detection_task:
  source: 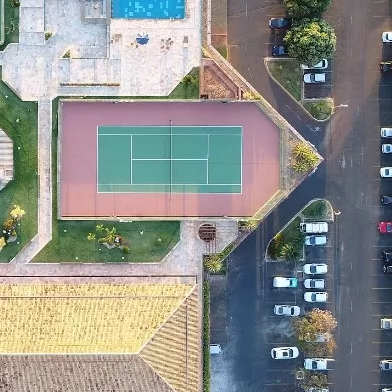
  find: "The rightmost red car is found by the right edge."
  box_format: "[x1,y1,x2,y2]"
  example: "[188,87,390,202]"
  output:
[378,221,392,234]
